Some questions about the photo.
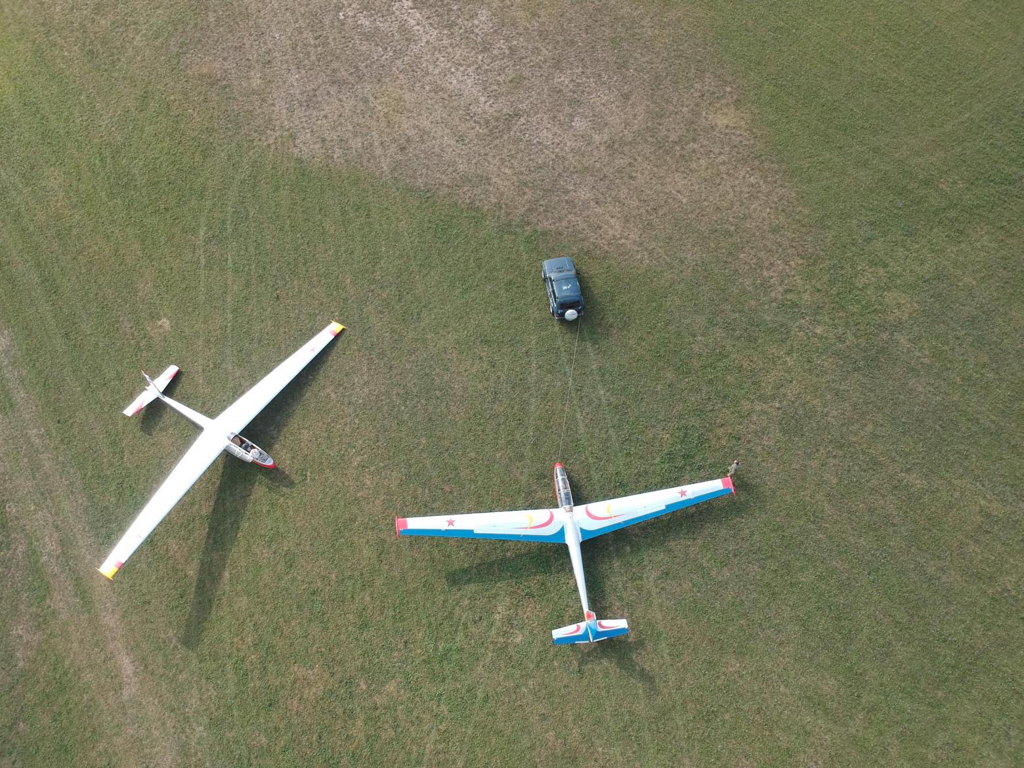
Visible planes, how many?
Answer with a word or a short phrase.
2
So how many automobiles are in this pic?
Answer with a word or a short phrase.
1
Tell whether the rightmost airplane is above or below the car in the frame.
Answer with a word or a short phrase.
below it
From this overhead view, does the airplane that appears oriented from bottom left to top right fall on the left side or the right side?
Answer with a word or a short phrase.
left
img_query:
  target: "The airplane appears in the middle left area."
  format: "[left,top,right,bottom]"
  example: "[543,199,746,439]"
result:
[96,320,344,580]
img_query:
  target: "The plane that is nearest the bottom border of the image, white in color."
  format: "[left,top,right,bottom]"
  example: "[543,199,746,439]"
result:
[396,462,734,644]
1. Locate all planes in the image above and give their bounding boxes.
[396,462,734,644]
[96,320,344,580]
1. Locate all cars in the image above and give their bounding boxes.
[542,258,584,321]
